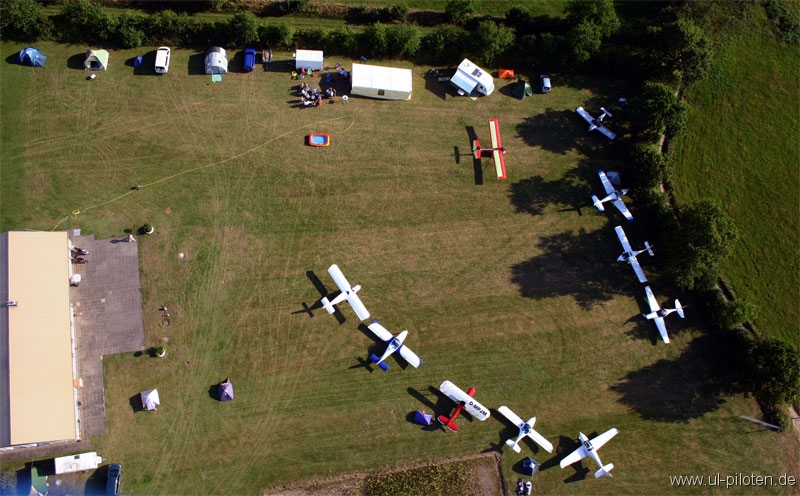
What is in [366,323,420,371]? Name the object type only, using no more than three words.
airplane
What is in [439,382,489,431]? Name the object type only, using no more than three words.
airplane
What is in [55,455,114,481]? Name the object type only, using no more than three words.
camper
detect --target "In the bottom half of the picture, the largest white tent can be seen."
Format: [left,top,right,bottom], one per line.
[139,392,161,418]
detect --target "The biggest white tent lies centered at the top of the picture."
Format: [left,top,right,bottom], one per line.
[349,65,412,102]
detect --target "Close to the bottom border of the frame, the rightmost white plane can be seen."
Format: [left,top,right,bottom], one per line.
[559,428,621,484]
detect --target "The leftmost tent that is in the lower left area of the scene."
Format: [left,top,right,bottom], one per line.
[26,473,50,496]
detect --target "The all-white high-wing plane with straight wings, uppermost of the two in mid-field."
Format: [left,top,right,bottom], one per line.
[319,267,367,323]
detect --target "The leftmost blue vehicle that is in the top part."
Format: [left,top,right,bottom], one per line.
[241,48,254,71]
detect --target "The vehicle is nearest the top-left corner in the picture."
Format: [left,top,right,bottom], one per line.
[156,48,172,75]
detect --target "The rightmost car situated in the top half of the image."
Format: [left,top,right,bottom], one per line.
[538,76,552,96]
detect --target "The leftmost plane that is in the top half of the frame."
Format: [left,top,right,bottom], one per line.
[473,120,509,177]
